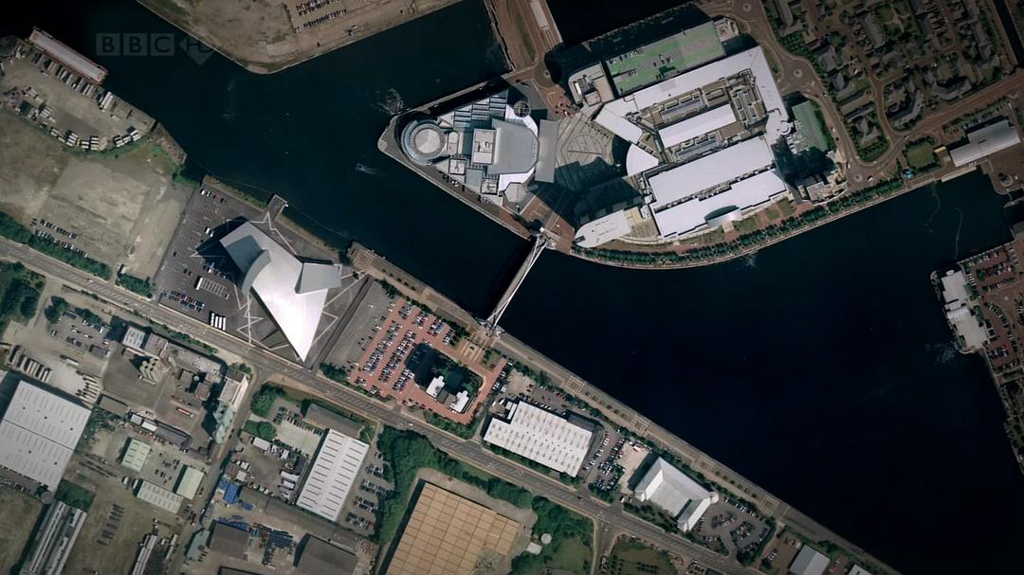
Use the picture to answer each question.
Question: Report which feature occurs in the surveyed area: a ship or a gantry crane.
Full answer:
This aerial view contains a ship.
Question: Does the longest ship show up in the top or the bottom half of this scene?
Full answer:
The longest ship is in the top half of the image.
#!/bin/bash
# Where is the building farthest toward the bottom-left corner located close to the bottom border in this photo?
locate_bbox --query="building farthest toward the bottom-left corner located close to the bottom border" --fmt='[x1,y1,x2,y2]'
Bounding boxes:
[17,500,90,575]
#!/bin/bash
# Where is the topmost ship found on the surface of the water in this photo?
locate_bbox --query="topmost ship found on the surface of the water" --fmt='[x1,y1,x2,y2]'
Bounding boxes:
[29,28,108,80]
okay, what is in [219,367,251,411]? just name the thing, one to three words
building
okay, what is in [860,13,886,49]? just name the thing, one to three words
house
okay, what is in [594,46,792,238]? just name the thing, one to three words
building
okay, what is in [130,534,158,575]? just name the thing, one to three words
shed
